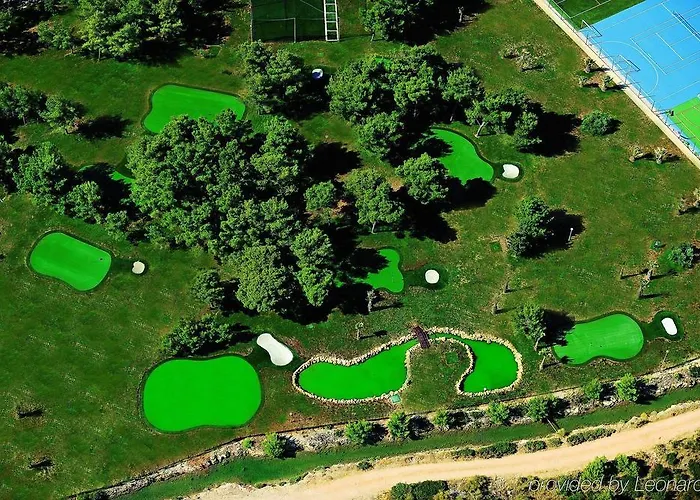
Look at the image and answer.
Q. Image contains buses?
No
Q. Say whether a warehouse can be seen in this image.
No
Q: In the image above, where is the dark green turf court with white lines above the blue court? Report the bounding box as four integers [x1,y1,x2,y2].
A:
[550,0,647,29]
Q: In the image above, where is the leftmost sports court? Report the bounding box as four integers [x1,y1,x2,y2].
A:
[247,0,339,42]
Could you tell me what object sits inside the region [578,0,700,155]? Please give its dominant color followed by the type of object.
blue sports court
